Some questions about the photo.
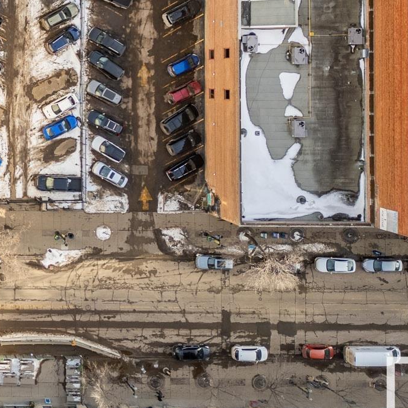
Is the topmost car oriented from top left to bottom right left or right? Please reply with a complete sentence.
The topmost car oriented from top left to bottom right appears in the left half of the scene.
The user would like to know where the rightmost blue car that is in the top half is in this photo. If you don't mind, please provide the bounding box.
[166,53,201,78]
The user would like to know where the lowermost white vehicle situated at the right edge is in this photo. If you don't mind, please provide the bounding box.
[339,343,396,367]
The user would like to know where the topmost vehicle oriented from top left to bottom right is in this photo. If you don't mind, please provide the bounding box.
[88,26,127,57]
